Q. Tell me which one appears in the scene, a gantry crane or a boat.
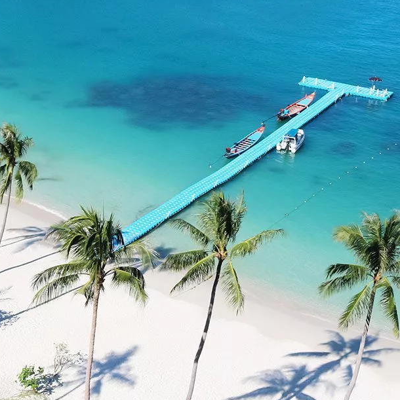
boat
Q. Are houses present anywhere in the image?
No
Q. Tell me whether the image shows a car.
No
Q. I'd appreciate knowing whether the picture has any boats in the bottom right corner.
No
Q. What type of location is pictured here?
beach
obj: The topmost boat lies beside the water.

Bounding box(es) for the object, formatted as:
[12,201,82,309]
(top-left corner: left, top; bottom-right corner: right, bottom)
[259,88,316,124]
